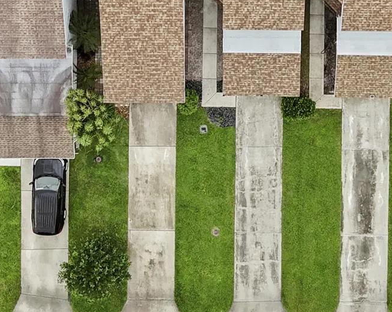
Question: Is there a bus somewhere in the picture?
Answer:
No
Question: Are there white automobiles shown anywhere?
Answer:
No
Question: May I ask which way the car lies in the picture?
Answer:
up and down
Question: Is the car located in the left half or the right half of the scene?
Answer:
left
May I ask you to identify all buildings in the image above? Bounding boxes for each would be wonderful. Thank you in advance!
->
[99,0,186,104]
[220,0,305,98]
[318,0,392,99]
[0,0,76,159]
